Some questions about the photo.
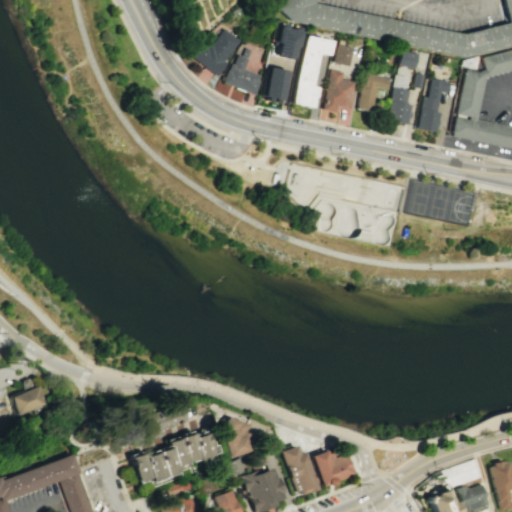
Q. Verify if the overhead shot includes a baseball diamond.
No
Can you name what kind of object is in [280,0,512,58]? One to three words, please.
building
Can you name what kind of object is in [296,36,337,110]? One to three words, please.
building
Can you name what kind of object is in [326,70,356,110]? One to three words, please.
house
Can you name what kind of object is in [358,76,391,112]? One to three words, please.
house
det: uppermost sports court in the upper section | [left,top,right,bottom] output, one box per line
[404,178,475,224]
